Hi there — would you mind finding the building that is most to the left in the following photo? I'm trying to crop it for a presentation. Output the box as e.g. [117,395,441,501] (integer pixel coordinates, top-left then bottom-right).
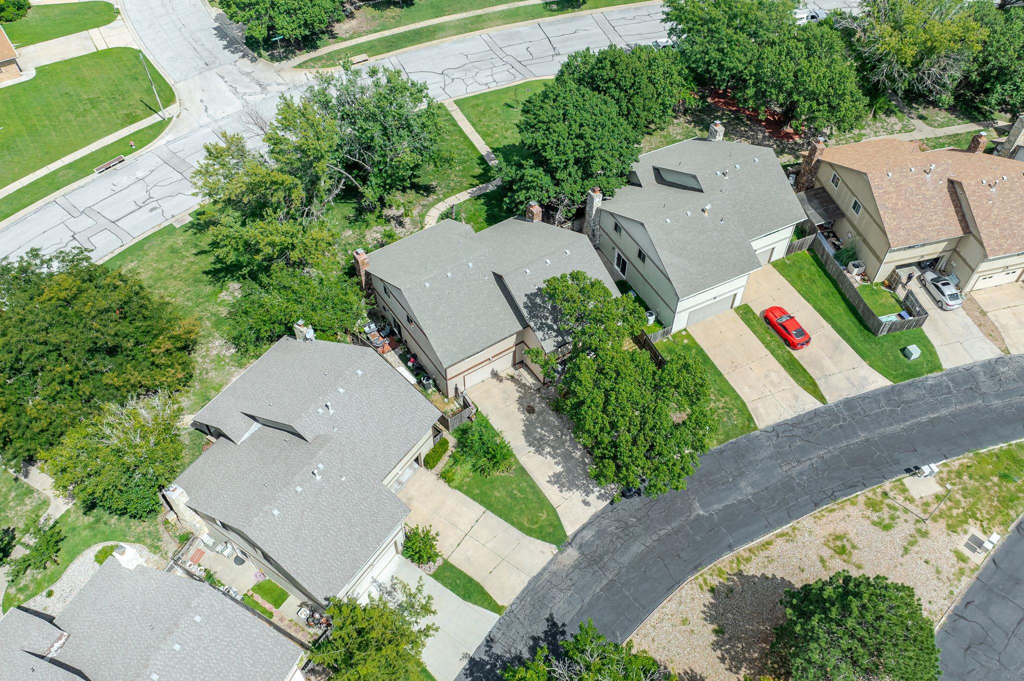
[0,19,41,81]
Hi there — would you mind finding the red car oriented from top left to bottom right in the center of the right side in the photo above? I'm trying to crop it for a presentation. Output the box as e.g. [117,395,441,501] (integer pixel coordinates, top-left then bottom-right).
[764,305,813,349]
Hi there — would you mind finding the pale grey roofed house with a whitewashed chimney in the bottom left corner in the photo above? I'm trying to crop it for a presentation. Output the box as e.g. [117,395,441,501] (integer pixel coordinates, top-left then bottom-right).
[0,537,307,681]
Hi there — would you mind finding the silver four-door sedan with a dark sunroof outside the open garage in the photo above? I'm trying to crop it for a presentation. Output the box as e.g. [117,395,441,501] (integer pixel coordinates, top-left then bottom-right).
[922,270,968,311]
